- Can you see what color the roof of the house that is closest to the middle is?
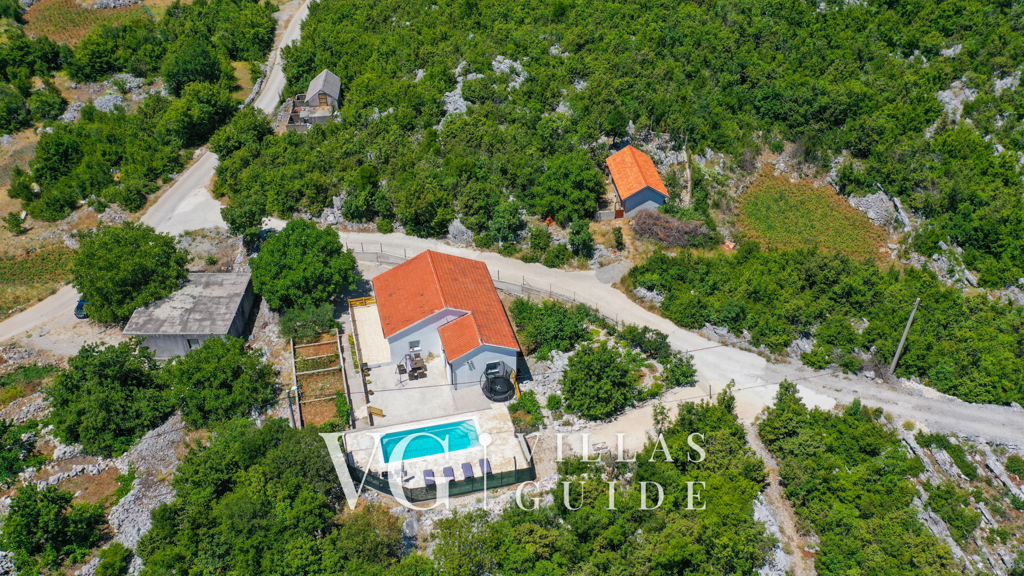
orange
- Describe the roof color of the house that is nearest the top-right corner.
orange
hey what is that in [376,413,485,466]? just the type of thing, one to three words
swimming pool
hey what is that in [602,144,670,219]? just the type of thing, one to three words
house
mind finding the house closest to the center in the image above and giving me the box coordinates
[374,250,521,389]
